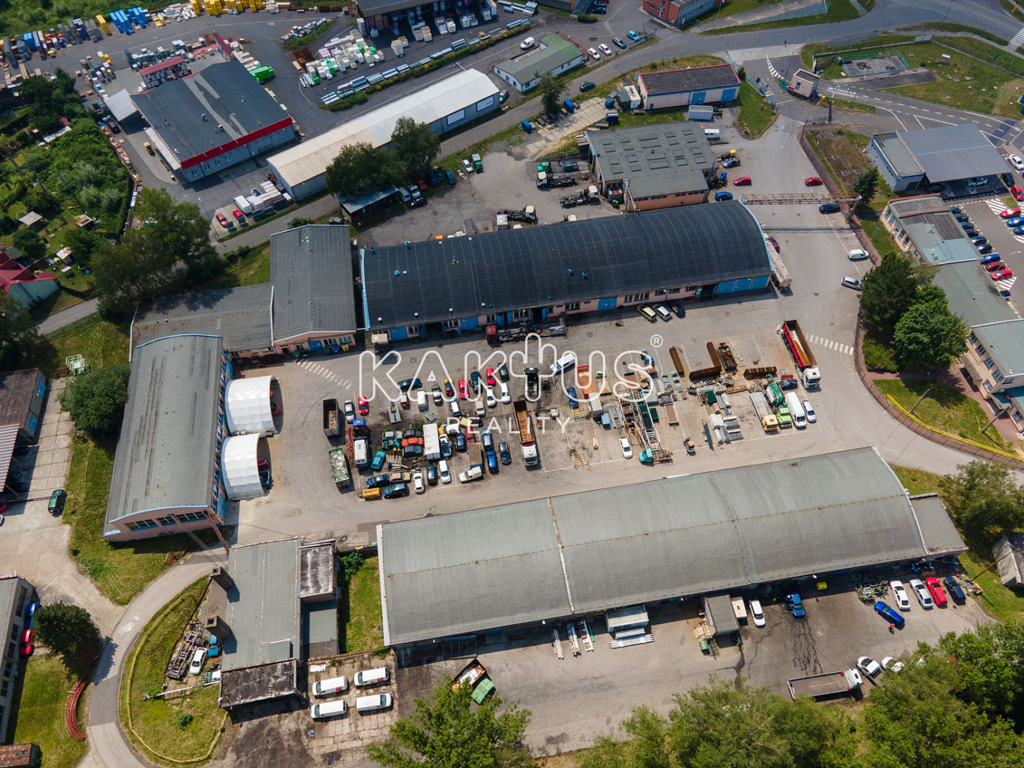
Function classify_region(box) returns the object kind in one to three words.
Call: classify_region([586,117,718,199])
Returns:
building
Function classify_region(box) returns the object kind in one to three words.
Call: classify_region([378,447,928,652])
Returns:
hangar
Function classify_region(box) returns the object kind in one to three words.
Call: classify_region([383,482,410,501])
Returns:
car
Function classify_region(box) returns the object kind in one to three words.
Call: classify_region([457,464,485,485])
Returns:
truck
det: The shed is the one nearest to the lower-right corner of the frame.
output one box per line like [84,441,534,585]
[977,541,1024,588]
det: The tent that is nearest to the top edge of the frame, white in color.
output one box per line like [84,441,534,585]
[225,381,280,438]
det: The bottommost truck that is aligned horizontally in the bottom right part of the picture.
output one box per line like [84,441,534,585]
[785,664,870,699]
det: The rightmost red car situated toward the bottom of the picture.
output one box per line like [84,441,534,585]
[924,578,948,608]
